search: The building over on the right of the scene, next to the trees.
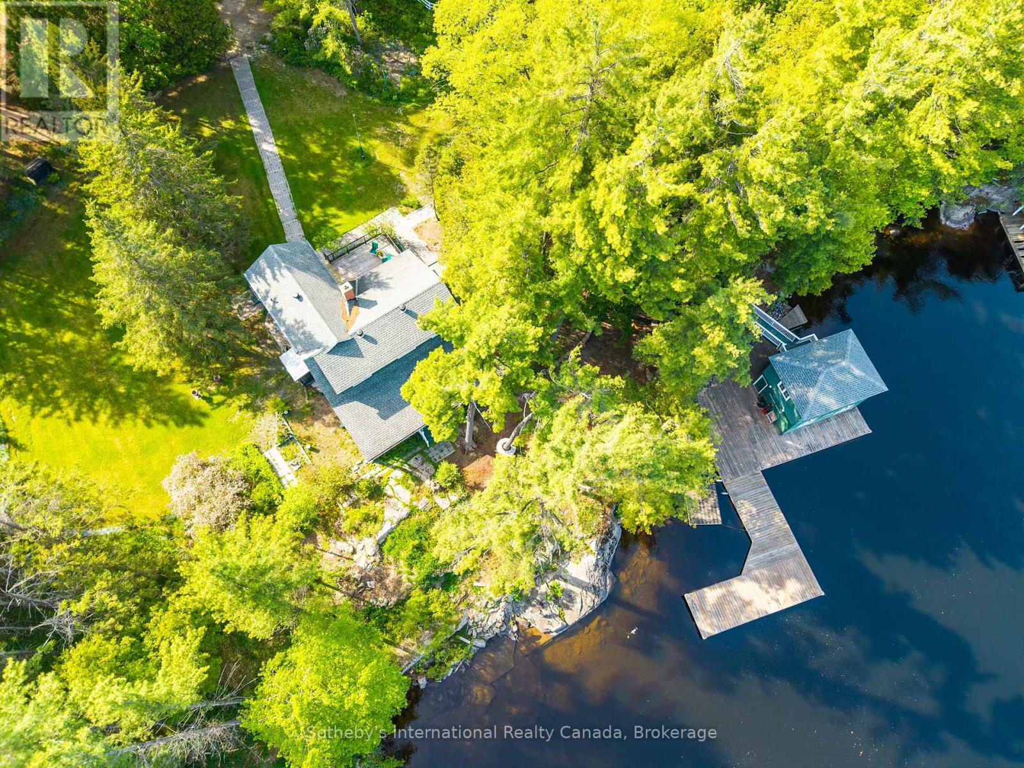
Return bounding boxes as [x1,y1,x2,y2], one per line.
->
[757,328,887,432]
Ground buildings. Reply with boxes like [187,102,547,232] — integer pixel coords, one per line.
[757,328,887,432]
[243,238,467,464]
